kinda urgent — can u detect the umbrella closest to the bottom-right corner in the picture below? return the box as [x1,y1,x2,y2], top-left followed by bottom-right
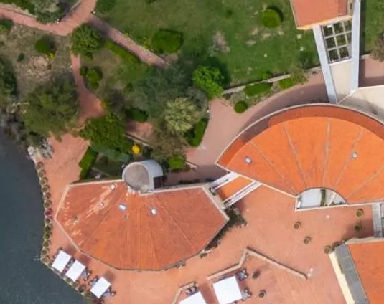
[213,276,242,304]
